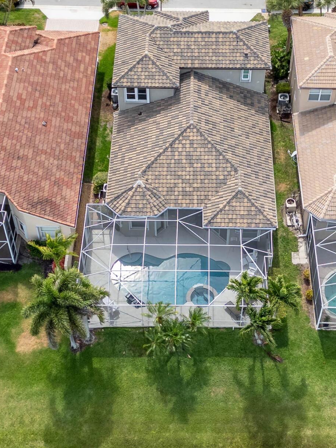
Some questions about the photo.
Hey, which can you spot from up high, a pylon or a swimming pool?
swimming pool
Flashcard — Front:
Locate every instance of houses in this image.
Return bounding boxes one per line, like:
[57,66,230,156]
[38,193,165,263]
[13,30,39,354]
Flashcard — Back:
[287,9,336,245]
[103,8,280,251]
[0,26,102,248]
